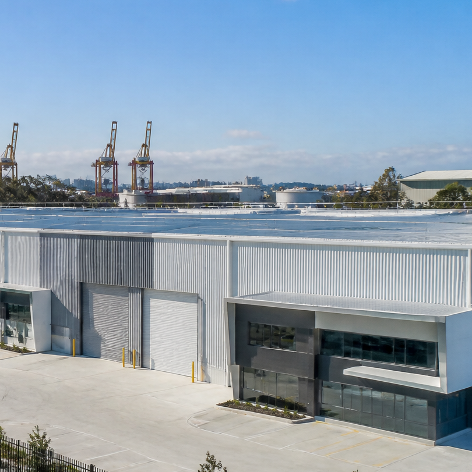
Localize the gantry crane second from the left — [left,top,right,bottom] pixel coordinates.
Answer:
[85,122,122,194]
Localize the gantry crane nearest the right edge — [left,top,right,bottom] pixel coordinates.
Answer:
[122,121,158,189]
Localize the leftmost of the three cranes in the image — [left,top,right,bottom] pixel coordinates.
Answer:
[0,122,23,189]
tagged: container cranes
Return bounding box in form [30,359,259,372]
[85,122,122,194]
[0,122,23,189]
[122,121,158,189]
